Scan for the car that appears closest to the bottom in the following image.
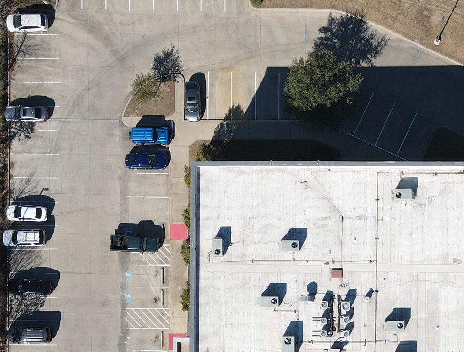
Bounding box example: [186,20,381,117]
[7,326,53,346]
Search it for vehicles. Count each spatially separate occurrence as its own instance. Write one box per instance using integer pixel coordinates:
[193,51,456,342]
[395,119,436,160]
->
[124,151,169,171]
[7,202,48,223]
[8,276,54,297]
[109,232,161,254]
[7,326,53,346]
[2,227,48,247]
[183,81,202,122]
[6,12,49,33]
[126,125,170,145]
[5,104,48,123]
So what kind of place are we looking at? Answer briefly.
parking lot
